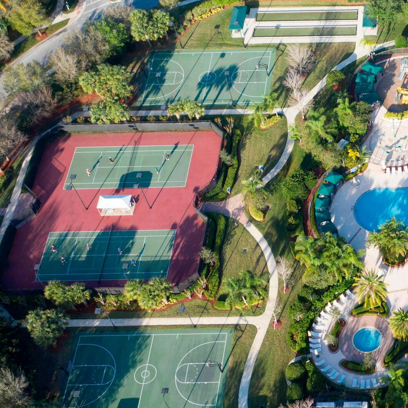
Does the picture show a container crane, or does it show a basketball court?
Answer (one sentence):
It is a basketball court that can be seen here.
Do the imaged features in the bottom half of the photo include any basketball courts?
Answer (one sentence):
Yes, a basketball court can be seen in the bottom half of the photo.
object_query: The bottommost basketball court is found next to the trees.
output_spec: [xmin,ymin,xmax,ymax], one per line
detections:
[55,328,233,408]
